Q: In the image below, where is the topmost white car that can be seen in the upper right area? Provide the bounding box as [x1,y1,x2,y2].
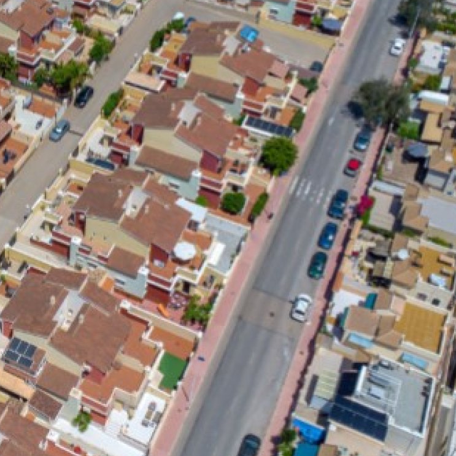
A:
[389,39,404,55]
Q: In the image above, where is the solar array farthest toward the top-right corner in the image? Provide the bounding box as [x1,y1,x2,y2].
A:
[249,117,289,137]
